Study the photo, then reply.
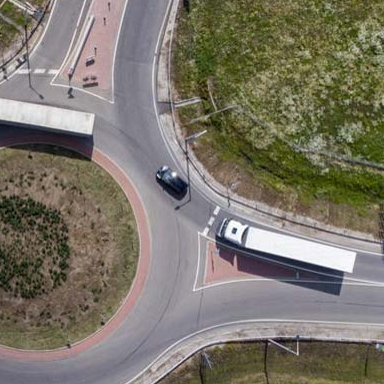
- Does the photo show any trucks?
Yes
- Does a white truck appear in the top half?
Yes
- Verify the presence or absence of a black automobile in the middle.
Yes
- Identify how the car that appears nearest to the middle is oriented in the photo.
at an angle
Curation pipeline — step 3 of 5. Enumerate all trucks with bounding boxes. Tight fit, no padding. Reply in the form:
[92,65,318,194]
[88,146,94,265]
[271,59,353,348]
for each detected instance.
[214,217,358,272]
[0,99,97,138]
